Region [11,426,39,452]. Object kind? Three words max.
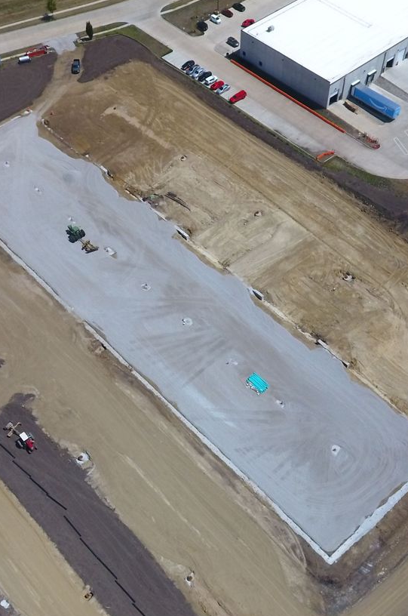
work vehicle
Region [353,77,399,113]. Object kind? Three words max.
trailer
